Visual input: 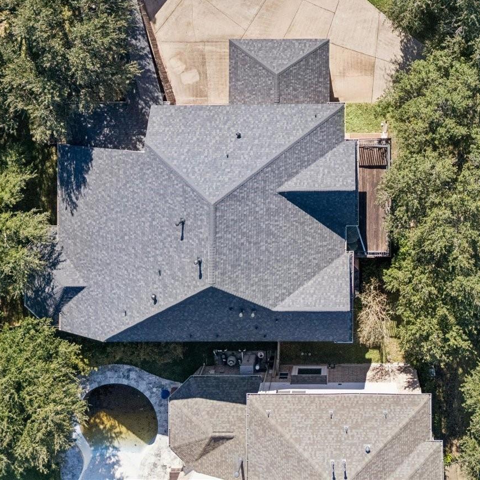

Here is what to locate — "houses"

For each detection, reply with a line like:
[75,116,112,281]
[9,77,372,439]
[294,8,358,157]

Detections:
[166,360,445,480]
[22,0,366,343]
